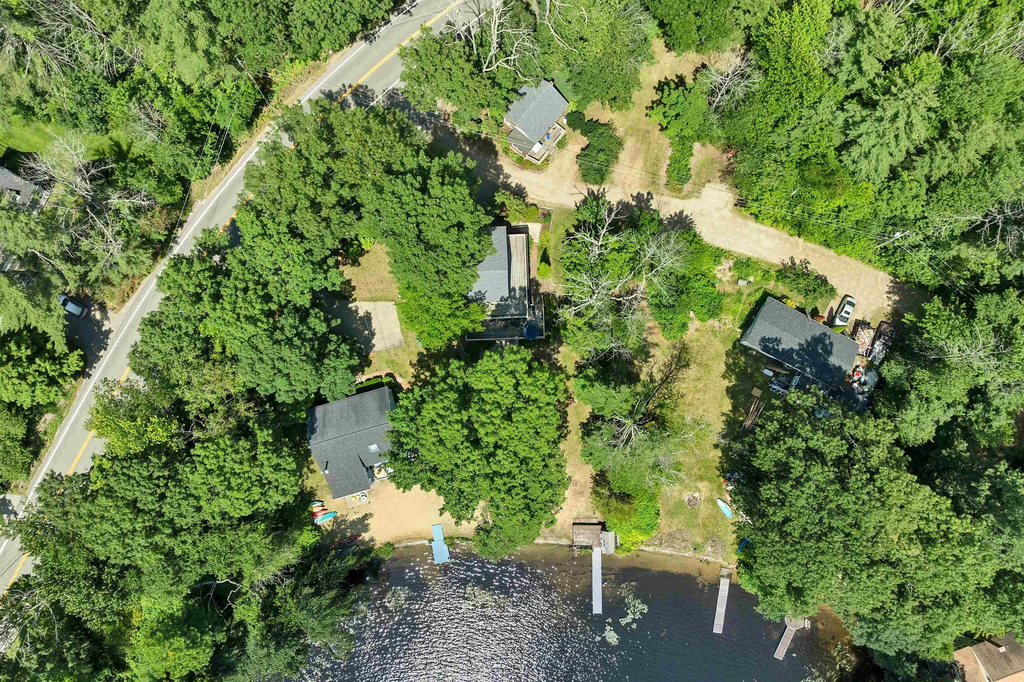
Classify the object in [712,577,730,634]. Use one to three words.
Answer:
pier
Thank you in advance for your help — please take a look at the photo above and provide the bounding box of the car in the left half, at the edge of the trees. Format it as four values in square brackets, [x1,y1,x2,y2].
[64,294,90,321]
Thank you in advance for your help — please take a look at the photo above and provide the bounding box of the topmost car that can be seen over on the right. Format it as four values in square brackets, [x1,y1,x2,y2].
[831,293,858,325]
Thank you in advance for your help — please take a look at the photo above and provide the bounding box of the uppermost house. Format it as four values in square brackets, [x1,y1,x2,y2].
[499,79,569,159]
